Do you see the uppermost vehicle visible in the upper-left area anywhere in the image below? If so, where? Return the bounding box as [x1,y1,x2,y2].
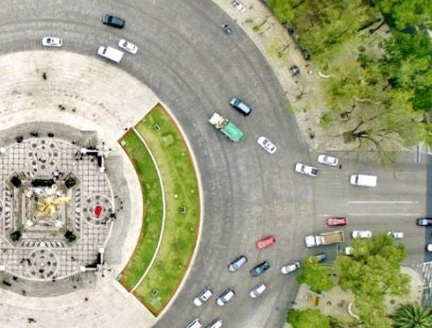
[102,14,125,27]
